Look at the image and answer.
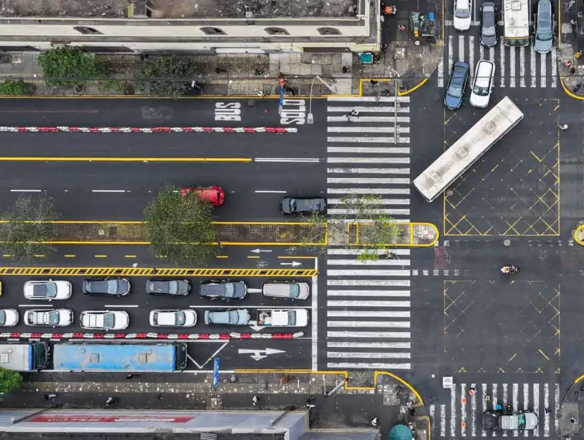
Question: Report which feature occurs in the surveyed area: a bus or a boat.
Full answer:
I can see a bus in this picture.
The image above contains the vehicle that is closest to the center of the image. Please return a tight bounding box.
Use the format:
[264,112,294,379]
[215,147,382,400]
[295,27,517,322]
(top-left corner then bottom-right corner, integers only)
[280,195,327,216]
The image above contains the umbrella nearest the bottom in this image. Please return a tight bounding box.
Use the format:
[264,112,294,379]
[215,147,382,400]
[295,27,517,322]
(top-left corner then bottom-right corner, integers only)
[390,424,412,440]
